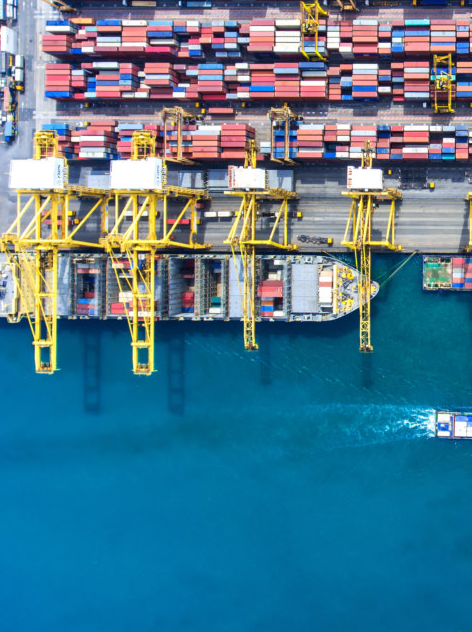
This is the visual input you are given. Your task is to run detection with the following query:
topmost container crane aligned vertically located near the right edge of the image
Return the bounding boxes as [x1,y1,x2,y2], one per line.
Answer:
[430,52,455,115]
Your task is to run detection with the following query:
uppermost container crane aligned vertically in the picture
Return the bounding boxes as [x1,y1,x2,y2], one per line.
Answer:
[299,0,330,66]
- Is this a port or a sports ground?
port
